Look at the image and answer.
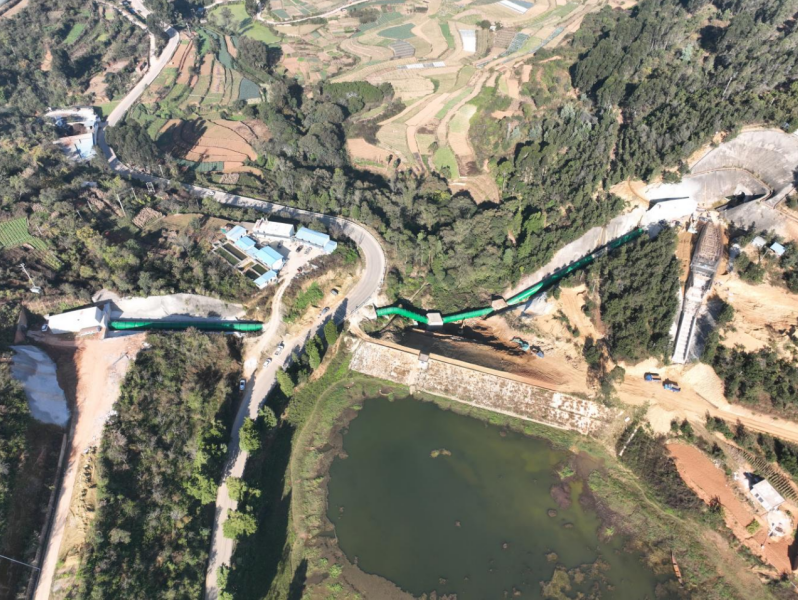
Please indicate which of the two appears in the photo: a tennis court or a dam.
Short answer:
dam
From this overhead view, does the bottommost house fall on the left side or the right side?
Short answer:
right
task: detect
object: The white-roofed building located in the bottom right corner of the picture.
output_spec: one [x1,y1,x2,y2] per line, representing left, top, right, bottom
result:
[752,480,791,510]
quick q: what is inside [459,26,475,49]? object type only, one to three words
greenhouse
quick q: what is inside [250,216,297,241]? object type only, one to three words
house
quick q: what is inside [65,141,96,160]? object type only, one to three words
house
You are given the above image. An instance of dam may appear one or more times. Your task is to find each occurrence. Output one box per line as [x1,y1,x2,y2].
[348,329,630,441]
